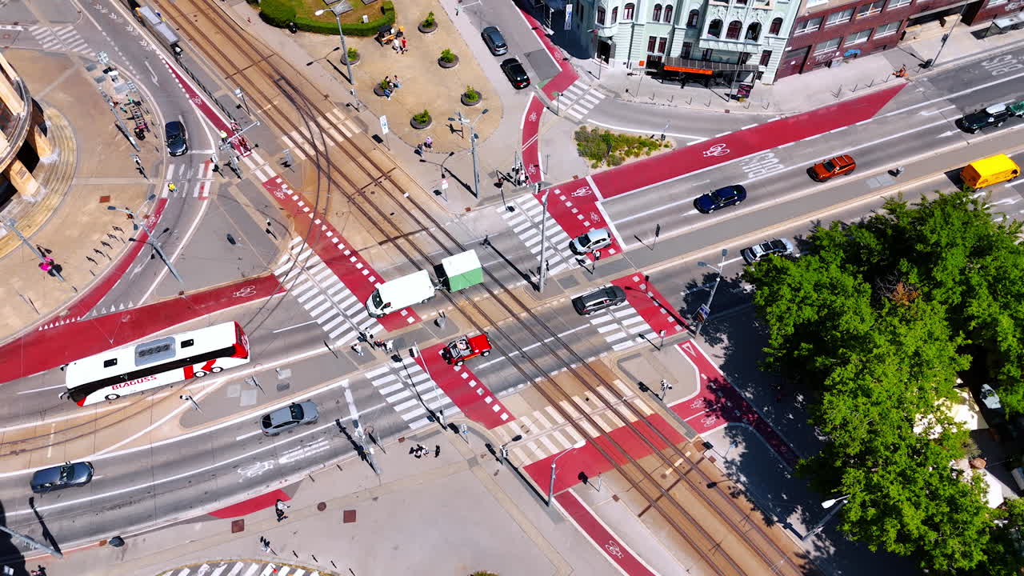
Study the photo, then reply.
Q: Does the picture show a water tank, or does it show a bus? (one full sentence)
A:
It is a bus that can be seen here.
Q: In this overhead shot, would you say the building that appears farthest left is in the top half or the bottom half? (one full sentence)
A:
The building that appears farthest left sits in the top half of the picture.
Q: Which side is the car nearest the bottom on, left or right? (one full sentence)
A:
The car nearest the bottom is on the left side of the image.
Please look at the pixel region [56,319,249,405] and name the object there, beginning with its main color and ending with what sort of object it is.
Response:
white bus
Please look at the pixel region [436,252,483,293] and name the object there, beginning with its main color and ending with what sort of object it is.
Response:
white trailer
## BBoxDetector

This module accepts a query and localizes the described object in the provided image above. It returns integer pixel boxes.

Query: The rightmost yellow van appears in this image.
[963,154,1023,189]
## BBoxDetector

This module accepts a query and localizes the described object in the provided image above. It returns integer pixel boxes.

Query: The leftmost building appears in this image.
[0,75,79,256]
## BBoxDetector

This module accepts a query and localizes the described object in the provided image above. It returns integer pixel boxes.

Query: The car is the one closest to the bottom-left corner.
[24,458,95,496]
